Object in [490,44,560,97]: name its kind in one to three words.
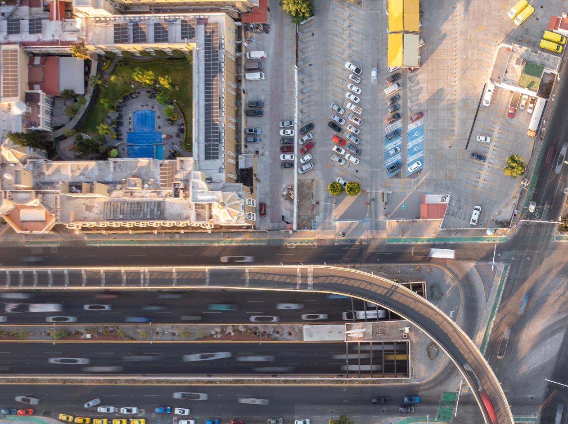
house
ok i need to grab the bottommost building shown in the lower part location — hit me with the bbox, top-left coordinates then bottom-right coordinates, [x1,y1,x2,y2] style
[304,324,346,341]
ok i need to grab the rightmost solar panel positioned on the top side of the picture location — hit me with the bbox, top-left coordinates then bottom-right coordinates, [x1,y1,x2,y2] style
[204,23,219,160]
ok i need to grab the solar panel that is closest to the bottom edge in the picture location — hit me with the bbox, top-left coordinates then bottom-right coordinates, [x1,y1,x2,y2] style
[159,162,174,187]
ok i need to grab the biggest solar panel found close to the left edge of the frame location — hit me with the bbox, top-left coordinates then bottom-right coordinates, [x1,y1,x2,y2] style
[1,49,17,96]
